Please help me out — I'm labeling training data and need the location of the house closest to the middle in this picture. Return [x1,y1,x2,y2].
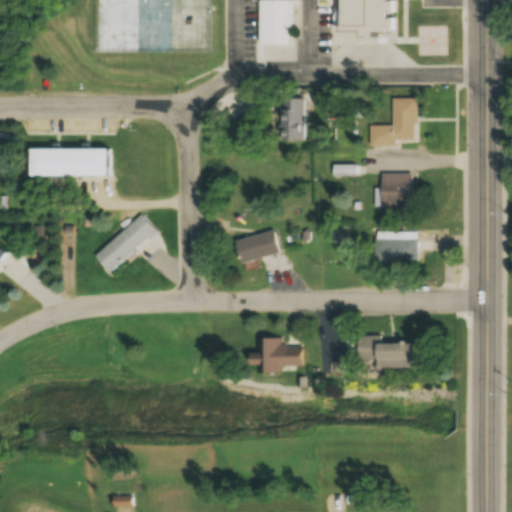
[236,230,280,270]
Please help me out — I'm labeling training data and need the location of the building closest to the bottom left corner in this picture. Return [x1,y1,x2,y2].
[111,494,136,508]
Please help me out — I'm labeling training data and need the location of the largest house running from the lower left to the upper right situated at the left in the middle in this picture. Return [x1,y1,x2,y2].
[96,212,160,276]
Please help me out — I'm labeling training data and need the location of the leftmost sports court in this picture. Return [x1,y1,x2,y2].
[98,0,138,52]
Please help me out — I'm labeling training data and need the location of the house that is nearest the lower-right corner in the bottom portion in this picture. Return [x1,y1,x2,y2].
[360,334,412,378]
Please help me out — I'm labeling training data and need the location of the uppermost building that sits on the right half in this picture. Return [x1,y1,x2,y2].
[337,0,398,38]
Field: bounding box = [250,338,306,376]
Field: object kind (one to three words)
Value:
house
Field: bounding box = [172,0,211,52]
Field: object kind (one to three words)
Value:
sports court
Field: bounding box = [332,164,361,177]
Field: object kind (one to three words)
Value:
shed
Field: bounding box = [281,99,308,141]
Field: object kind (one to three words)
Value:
house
